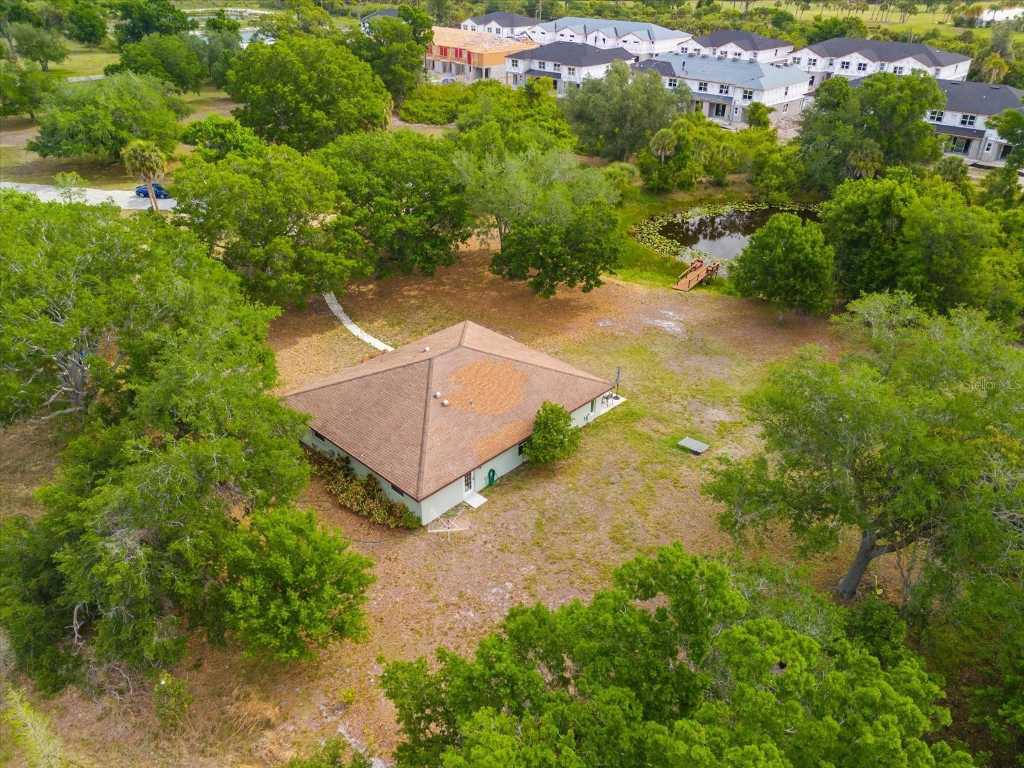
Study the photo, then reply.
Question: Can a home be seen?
Yes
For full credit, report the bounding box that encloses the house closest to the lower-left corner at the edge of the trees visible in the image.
[284,319,613,526]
